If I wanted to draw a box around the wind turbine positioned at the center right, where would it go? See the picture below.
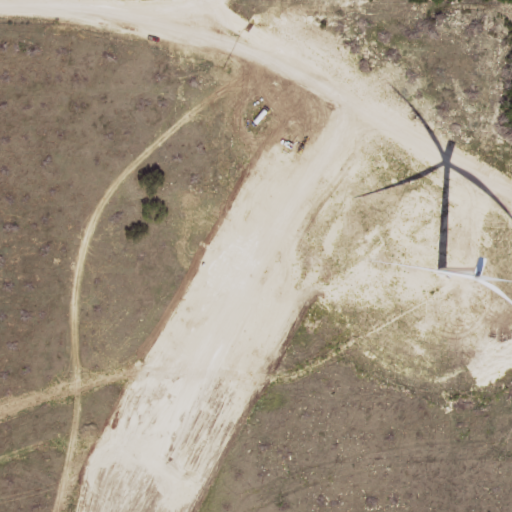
[363,256,512,307]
